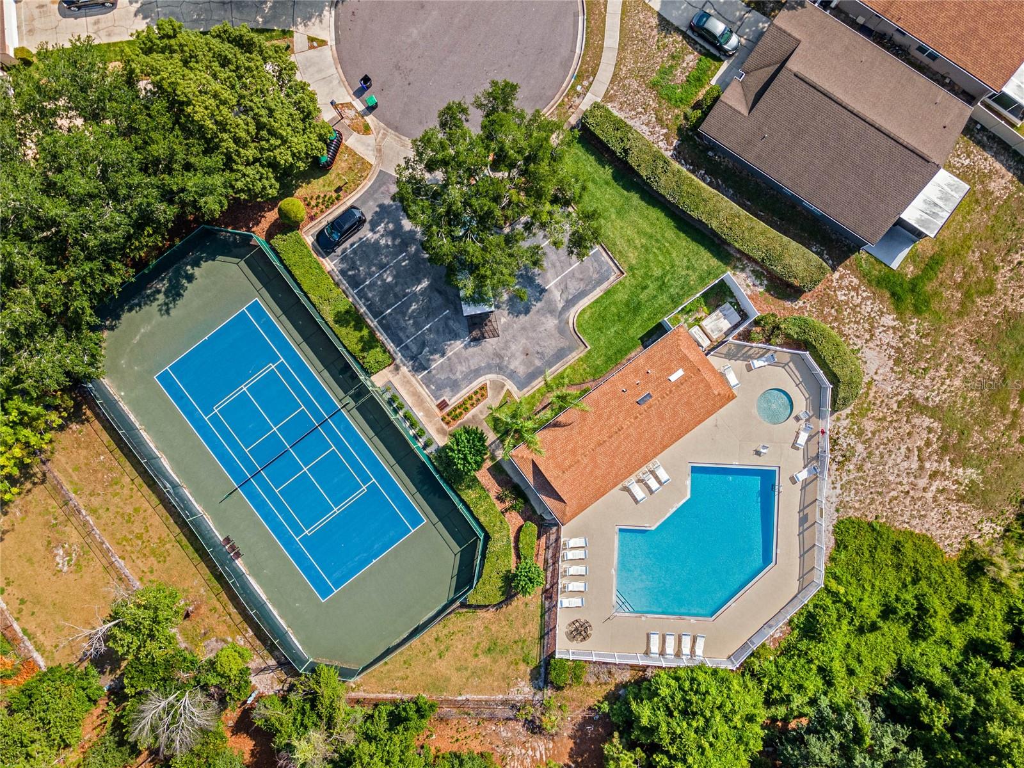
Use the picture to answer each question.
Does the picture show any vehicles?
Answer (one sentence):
Yes, looking at the shot, I can spot a vehicle.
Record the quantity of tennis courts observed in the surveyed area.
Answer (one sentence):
I count just 1 tennis court.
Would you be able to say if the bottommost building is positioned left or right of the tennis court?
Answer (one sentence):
Compared with the tennis court, the bottommost building is located further to the right.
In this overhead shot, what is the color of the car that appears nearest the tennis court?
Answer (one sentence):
The car that appears nearest the tennis court is black.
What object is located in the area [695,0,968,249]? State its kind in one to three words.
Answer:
house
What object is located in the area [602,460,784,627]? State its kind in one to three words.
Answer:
swimming pool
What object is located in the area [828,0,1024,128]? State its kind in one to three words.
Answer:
house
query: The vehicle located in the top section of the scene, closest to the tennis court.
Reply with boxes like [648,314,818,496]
[316,206,366,251]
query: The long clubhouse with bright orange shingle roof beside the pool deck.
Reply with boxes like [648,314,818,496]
[510,325,735,526]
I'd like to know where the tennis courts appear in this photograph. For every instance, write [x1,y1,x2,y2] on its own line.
[101,235,484,664]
